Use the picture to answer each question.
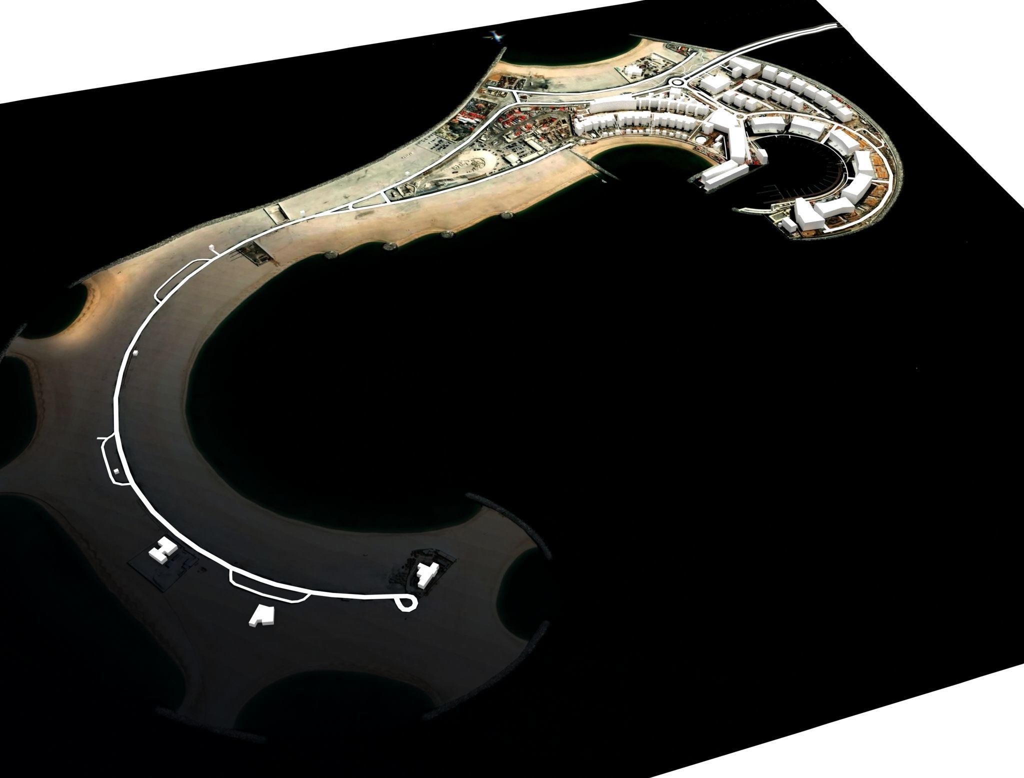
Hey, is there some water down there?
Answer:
Yes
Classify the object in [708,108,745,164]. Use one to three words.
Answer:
building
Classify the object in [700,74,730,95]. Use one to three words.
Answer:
building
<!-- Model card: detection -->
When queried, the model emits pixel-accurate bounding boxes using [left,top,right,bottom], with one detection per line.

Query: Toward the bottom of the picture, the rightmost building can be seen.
[417,562,439,589]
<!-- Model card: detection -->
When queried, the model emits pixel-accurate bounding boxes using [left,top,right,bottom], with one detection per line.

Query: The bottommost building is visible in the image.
[249,604,275,627]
